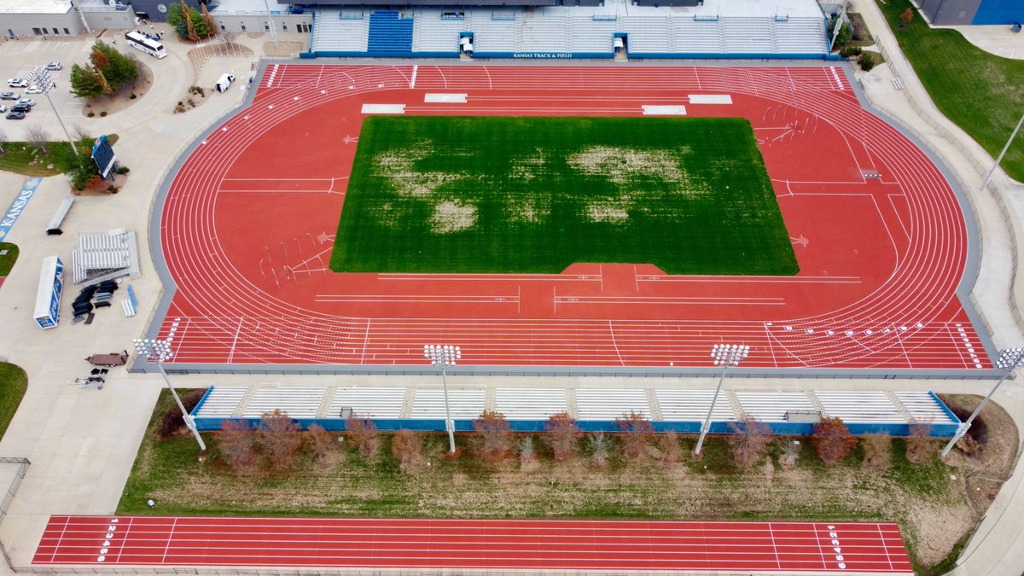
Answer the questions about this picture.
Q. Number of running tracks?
2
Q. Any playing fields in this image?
Yes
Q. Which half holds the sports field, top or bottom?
top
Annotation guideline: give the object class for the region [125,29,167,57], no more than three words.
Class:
bus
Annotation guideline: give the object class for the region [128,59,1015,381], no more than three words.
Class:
running track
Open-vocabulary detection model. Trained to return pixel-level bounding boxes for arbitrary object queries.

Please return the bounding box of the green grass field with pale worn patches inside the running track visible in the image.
[329,115,800,275]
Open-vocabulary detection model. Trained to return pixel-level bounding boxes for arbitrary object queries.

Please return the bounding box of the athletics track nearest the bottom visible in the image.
[29,514,915,572]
